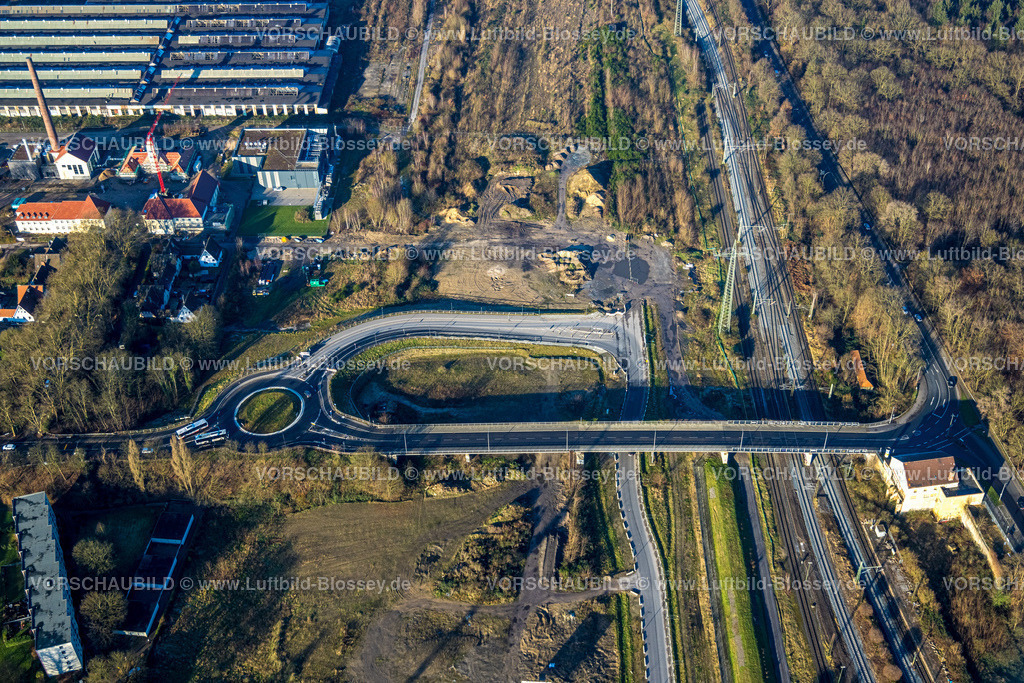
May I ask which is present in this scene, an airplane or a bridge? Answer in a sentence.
Looking from above, you can make out a bridge.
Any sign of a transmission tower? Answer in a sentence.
Yes, the picture does show a transmission tower.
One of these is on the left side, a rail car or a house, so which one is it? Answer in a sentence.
The one visible on the left side is a house.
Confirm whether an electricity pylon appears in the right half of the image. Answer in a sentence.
Yes, an electricity pylon is visible in the right half of the image.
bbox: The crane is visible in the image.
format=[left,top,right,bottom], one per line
[143,73,182,199]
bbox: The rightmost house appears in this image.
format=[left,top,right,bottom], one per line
[889,451,989,522]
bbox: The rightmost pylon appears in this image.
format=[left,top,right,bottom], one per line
[717,249,754,335]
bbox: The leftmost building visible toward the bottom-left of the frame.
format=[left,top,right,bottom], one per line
[15,491,86,678]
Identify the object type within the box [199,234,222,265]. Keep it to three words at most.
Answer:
house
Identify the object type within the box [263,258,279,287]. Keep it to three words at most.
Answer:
vehicle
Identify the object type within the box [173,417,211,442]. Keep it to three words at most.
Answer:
bus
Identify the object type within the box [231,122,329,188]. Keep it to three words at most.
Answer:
building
